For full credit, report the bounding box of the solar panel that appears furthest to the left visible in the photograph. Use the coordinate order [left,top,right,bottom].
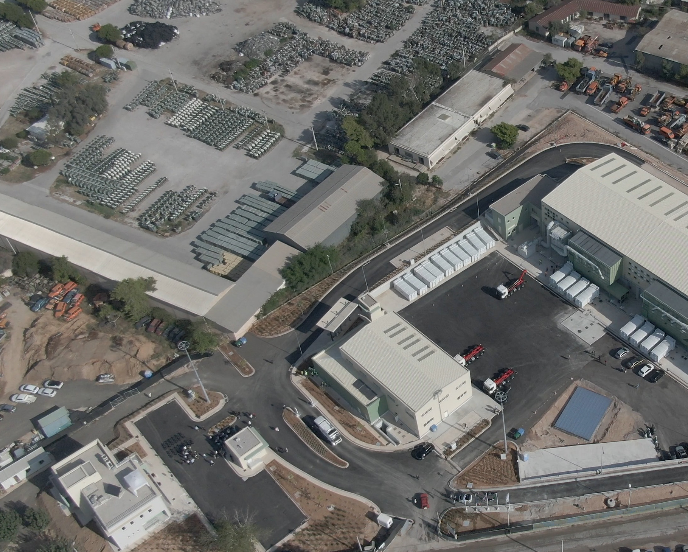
[102,481,123,499]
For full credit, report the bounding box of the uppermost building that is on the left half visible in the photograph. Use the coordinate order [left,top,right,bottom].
[26,117,63,148]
